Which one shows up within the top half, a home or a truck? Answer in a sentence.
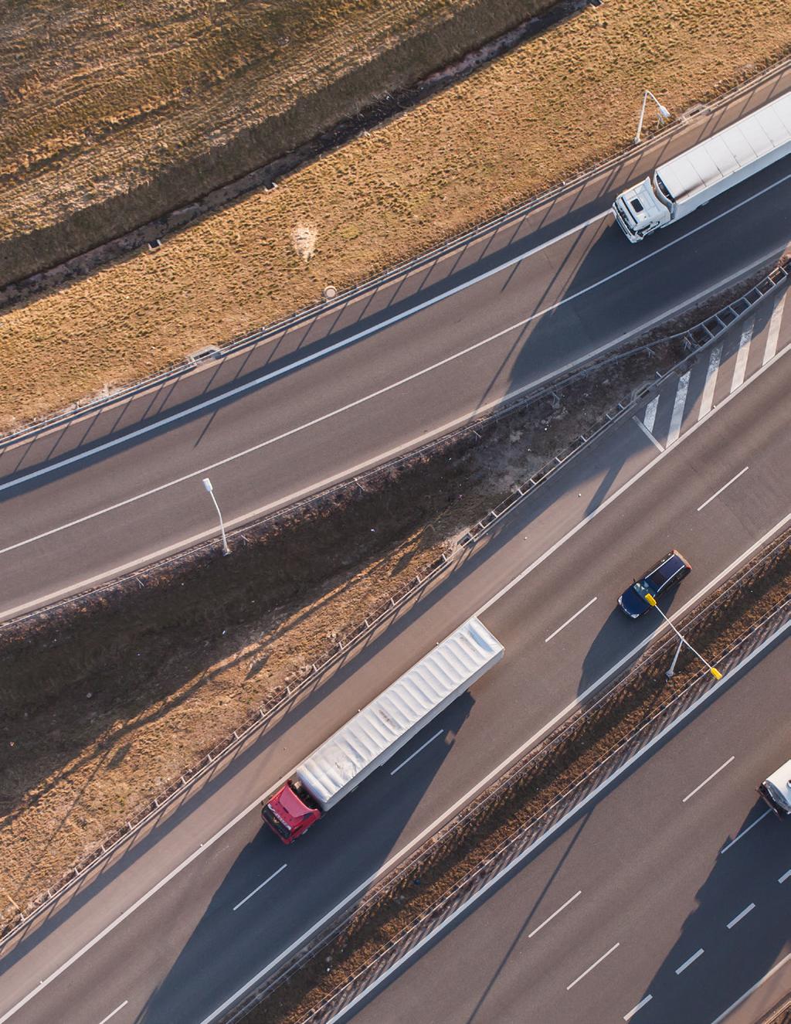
You can see a truck within the top half.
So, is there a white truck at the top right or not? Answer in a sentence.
Yes, there is a white truck at the top right.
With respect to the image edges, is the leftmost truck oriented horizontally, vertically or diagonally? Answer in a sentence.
I'd say the leftmost truck is aligned diagonally in the picture.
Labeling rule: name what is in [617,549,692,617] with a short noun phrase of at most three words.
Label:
car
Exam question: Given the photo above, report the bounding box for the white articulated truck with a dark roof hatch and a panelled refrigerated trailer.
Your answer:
[611,94,791,246]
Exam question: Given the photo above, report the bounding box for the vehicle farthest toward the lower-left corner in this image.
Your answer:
[255,618,505,849]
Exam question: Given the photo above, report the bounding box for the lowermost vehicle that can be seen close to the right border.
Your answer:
[756,756,791,820]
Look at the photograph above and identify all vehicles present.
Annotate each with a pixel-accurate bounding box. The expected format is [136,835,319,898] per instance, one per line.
[756,756,791,820]
[617,549,692,617]
[255,618,505,849]
[611,94,791,246]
